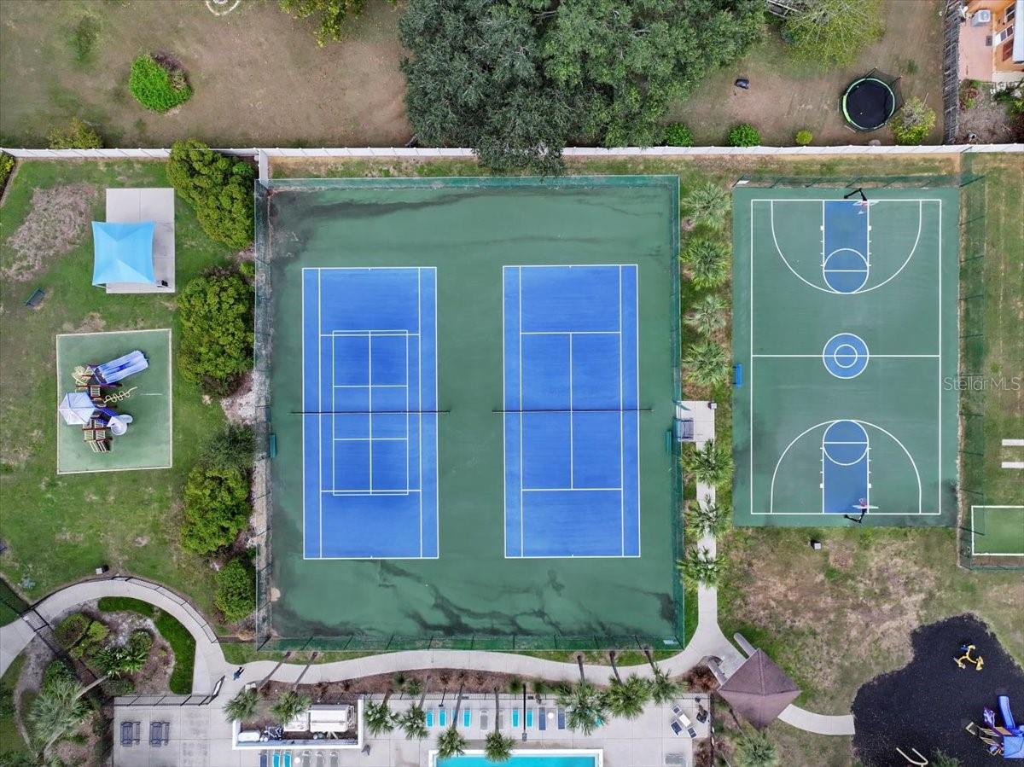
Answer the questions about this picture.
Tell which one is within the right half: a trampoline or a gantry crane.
trampoline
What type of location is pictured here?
sports ground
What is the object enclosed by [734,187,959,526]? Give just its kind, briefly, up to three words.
basketball court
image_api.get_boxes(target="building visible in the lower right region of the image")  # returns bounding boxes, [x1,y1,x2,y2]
[711,638,802,731]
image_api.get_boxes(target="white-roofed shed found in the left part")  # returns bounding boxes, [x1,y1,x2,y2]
[308,705,349,732]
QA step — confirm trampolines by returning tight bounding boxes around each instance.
[838,67,905,133]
